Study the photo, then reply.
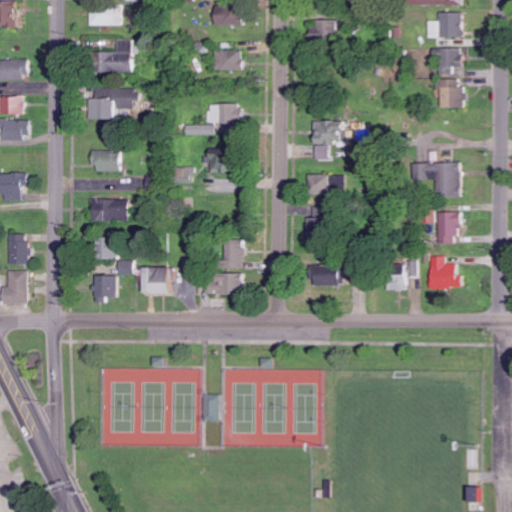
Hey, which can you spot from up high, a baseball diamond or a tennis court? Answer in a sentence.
It is a tennis court that can be seen here.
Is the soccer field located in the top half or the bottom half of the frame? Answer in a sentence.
The soccer field is in the bottom half of the image.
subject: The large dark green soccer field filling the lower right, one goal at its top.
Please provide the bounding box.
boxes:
[334,373,479,512]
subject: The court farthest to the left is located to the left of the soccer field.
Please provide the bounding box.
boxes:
[103,368,139,446]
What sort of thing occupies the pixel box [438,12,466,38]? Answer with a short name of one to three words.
house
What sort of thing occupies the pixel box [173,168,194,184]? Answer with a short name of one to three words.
building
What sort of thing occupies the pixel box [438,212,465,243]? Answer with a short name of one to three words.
house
